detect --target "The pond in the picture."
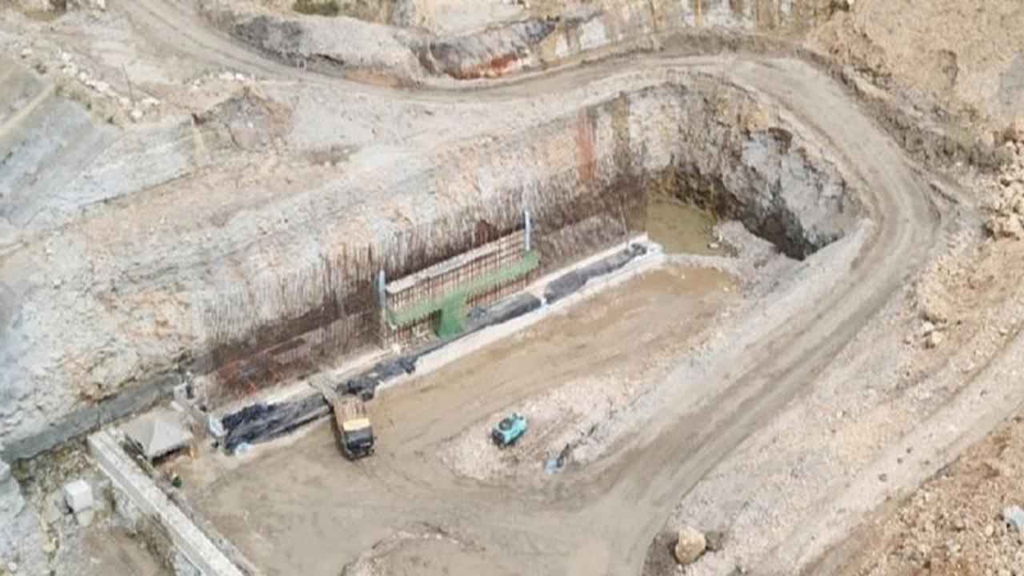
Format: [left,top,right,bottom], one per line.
[638,173,744,251]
